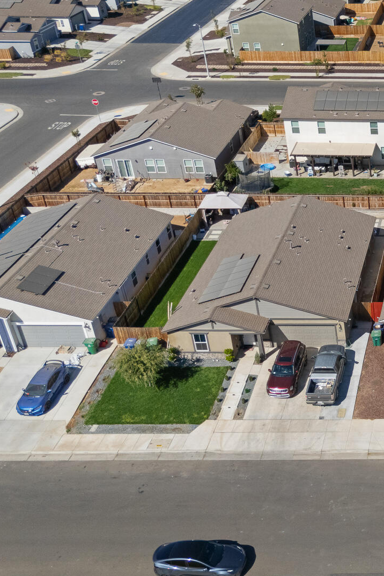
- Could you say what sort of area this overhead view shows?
residential area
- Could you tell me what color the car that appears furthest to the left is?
blue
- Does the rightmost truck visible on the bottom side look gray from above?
Yes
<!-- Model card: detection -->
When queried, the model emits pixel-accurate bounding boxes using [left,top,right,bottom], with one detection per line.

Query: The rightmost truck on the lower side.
[302,349,348,407]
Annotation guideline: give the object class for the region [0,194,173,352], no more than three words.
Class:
house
